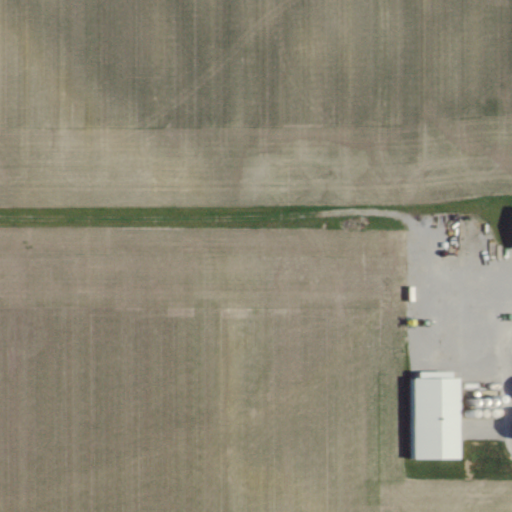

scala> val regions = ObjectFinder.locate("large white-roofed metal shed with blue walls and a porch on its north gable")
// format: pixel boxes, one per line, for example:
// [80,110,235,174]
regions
[410,372,462,460]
